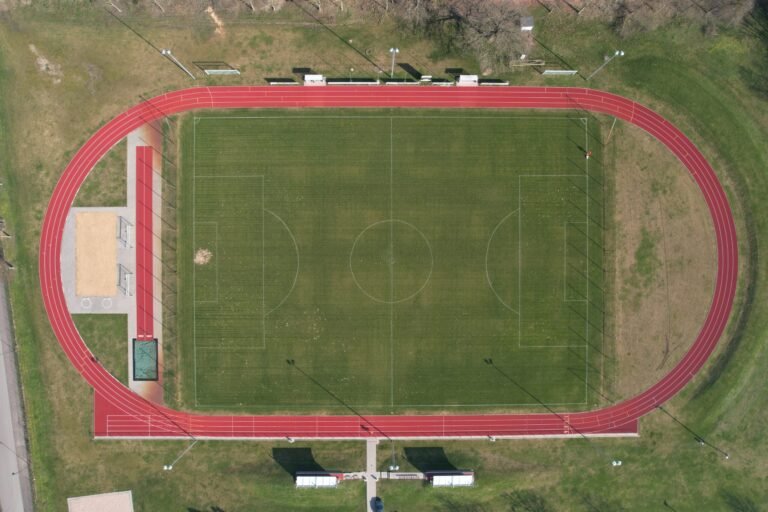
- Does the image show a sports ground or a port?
sports ground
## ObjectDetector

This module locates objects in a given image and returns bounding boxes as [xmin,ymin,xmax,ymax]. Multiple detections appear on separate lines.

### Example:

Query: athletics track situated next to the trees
[39,85,739,441]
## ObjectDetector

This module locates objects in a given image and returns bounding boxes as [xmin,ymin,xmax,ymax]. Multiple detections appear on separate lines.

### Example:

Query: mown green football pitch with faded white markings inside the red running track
[182,109,604,412]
